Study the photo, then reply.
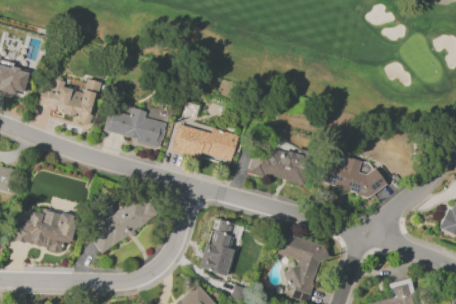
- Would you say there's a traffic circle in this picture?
No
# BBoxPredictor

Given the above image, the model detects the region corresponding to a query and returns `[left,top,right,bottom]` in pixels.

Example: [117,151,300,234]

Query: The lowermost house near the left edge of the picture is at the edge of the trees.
[16,206,75,254]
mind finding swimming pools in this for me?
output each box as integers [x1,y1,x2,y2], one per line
[26,38,42,60]
[268,259,282,286]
